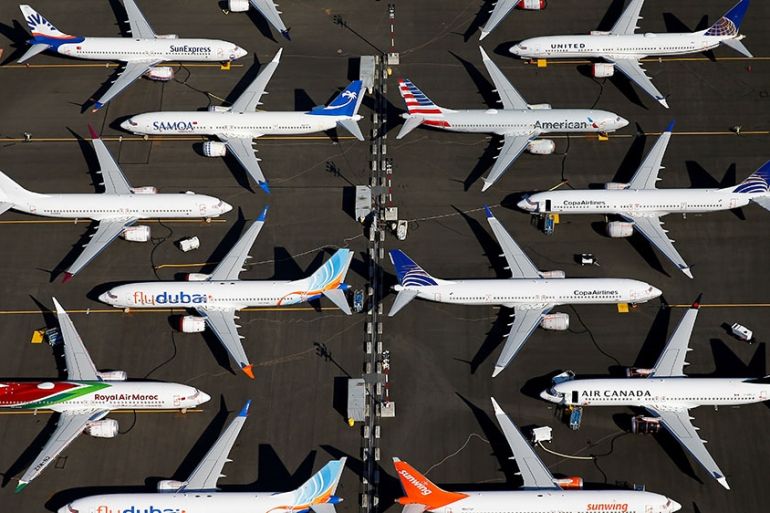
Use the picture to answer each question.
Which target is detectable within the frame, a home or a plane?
plane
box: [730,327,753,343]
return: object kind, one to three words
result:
vehicle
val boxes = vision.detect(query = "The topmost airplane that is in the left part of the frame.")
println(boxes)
[227,0,291,40]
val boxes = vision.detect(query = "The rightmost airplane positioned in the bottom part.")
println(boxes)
[540,296,770,487]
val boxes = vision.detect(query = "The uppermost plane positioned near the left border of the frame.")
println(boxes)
[19,0,245,111]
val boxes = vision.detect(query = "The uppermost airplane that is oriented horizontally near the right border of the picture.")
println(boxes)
[509,0,751,108]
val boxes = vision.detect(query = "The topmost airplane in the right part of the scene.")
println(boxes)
[479,0,547,39]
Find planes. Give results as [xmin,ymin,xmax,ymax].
[389,206,663,378]
[0,126,232,281]
[517,123,770,278]
[479,0,547,39]
[509,0,751,108]
[120,51,366,193]
[59,400,347,513]
[540,296,770,487]
[393,398,682,513]
[227,0,291,40]
[99,207,355,378]
[19,0,245,111]
[398,49,629,190]
[0,301,210,491]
